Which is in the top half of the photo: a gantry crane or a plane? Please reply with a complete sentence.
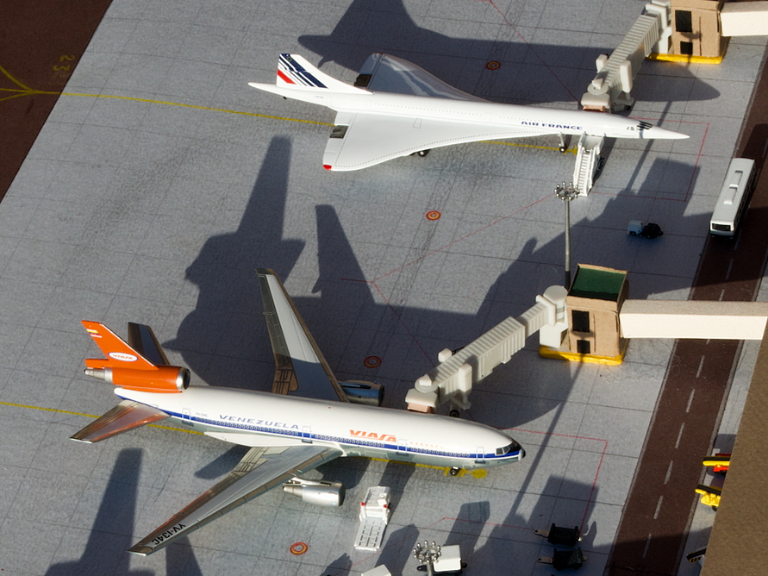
The one visible in the top half of the photo is a plane.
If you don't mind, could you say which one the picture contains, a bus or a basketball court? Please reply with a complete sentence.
The one in the frame is a bus.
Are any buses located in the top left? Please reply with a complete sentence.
No, I can find no bus in the top left.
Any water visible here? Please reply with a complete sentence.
No, there is no water in the image.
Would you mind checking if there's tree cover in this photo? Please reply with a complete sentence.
No, there's no tree cover in this view.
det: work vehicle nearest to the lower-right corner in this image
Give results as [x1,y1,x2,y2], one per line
[685,553,706,574]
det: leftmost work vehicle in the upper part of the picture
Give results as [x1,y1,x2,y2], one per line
[628,213,667,236]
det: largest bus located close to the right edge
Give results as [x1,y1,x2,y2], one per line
[711,159,754,238]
